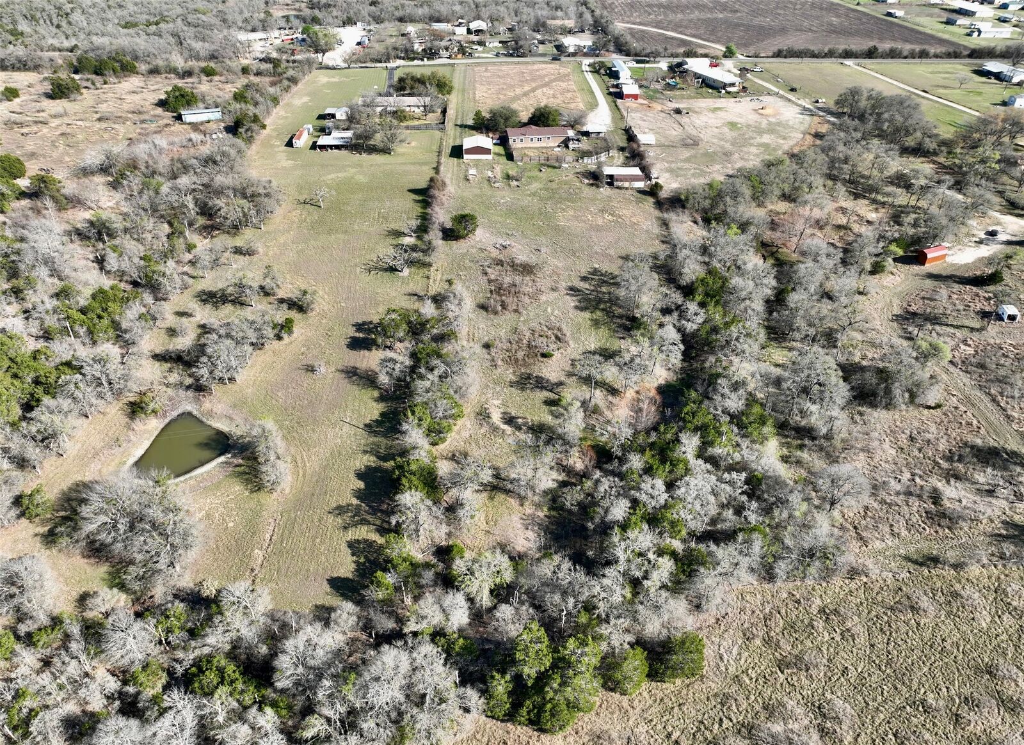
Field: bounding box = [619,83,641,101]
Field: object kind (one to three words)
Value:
shed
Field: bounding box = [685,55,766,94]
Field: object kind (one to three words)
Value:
house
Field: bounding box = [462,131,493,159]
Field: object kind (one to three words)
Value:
building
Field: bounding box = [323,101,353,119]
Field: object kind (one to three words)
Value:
shed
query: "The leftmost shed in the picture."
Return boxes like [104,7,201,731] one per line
[179,103,222,122]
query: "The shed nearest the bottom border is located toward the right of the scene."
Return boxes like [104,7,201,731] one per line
[914,243,951,265]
